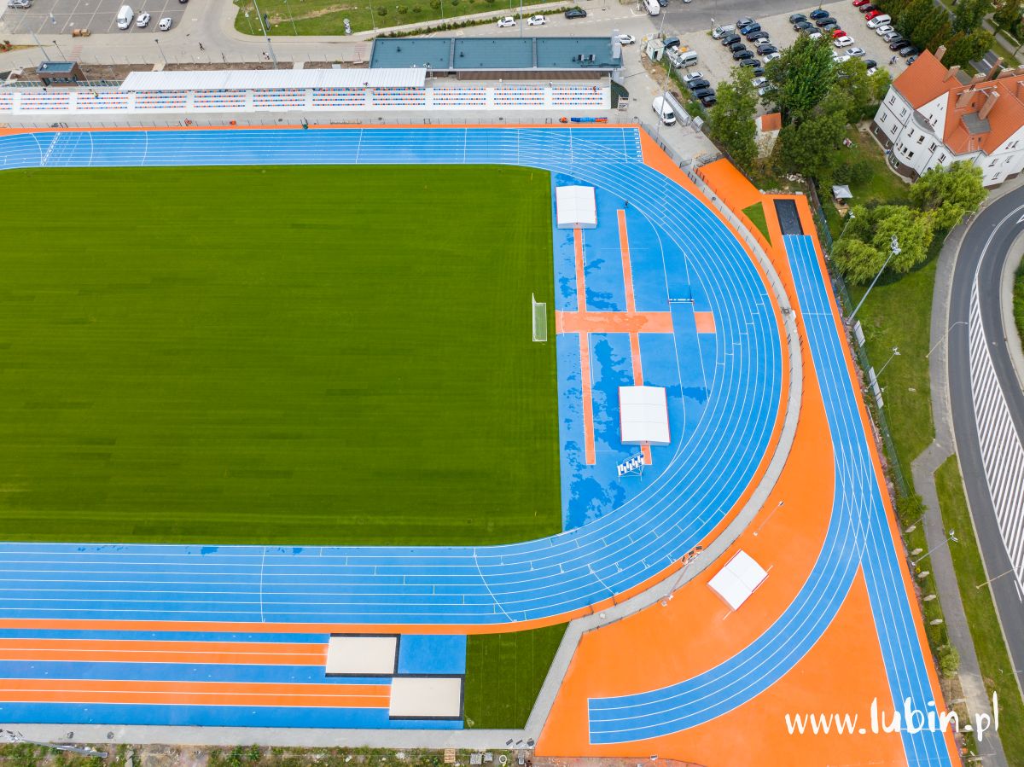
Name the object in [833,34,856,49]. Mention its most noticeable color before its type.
white car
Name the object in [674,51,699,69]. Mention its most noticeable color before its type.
gray vehicle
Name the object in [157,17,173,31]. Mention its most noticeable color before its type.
white vehicle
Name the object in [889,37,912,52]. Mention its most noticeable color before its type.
black car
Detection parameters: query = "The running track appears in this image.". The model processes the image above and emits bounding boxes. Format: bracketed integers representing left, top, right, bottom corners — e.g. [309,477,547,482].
[0,124,790,634]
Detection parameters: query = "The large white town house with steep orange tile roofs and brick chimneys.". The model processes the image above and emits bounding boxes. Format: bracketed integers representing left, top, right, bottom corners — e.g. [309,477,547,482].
[870,47,1024,188]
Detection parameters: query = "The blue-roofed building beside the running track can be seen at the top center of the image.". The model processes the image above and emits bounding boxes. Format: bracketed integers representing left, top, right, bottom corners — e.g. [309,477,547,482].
[368,27,626,100]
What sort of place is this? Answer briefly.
sports ground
